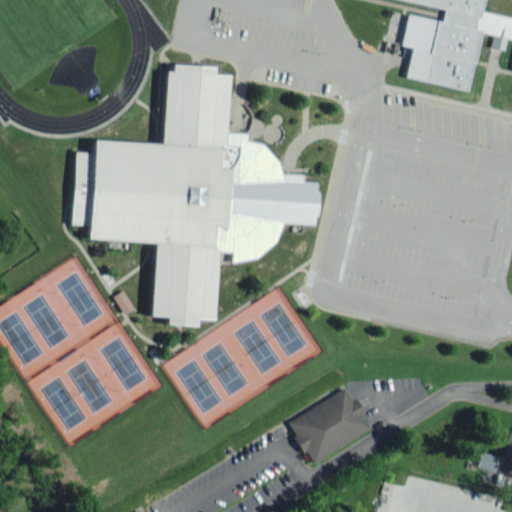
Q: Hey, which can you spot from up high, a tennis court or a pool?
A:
tennis court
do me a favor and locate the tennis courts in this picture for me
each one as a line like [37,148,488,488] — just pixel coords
[202,346,246,396]
[0,313,42,364]
[262,304,306,356]
[178,360,222,412]
[236,322,280,373]
[102,338,146,390]
[24,296,68,347]
[58,274,102,325]
[68,361,112,412]
[42,378,86,430]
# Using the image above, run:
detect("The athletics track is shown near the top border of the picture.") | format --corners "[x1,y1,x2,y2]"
[0,0,168,134]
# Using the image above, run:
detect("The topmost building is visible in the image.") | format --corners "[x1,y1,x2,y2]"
[400,0,512,92]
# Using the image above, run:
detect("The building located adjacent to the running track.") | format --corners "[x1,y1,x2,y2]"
[72,64,322,328]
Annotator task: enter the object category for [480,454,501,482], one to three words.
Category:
house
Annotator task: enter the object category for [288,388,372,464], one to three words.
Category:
building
